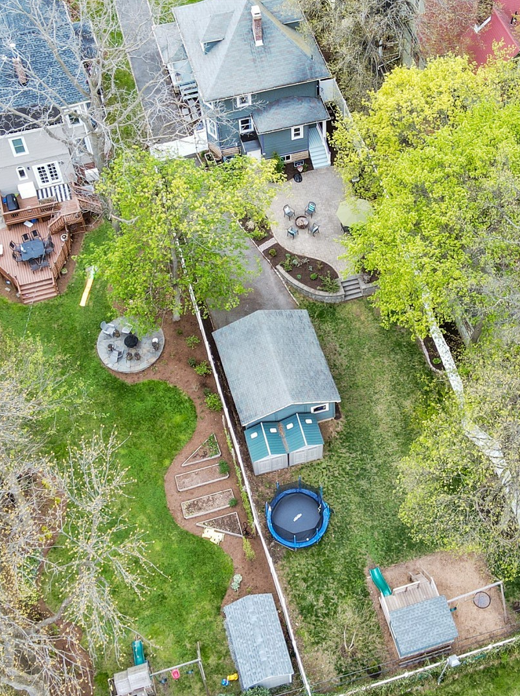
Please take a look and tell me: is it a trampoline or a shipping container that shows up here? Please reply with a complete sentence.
This aerial view contains a trampoline.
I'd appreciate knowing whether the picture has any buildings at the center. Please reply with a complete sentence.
Yes, there is a building at the center.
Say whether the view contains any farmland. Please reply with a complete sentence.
No, there's no farmland in this view.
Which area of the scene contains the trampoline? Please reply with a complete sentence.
You can find the trampoline in the bottom area of the picture.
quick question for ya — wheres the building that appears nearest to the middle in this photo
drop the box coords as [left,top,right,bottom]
[215,309,339,431]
